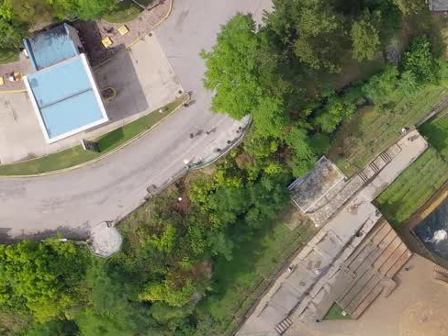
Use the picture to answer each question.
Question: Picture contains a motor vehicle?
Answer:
No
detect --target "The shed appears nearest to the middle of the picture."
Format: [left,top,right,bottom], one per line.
[288,157,350,213]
